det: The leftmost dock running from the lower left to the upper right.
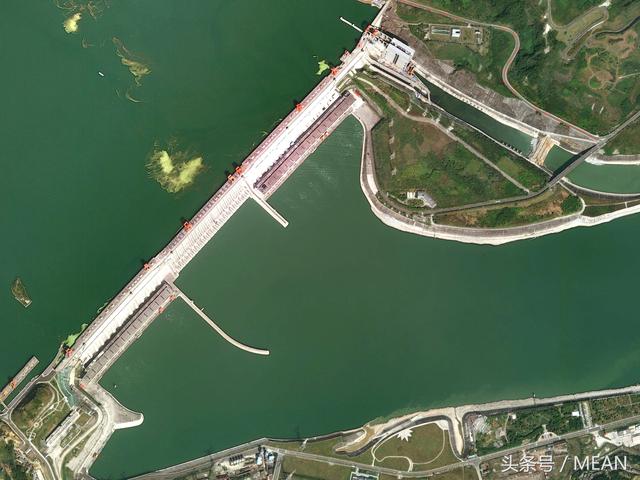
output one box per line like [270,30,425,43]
[0,356,39,402]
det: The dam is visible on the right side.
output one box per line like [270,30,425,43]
[529,134,559,165]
